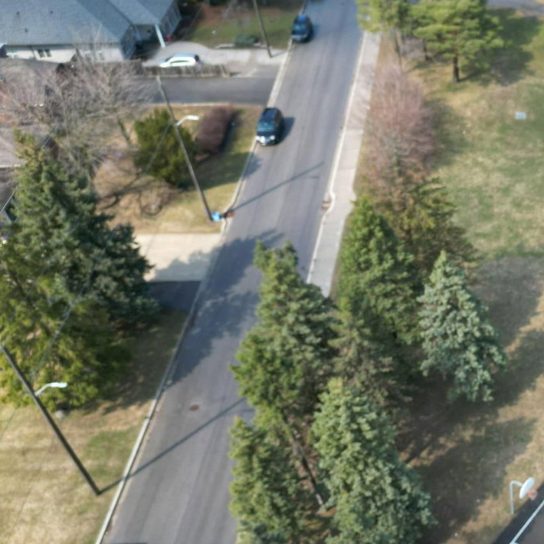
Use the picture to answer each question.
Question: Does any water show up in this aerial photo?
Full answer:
No, the picture contains no water.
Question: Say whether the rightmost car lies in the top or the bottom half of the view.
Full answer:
You can find the rightmost car in the top half.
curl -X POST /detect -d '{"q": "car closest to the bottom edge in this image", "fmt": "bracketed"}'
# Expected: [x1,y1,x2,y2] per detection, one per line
[256,113,286,145]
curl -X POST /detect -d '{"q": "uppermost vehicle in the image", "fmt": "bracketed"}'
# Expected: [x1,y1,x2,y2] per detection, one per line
[290,18,315,42]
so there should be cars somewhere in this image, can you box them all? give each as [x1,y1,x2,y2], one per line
[256,113,286,145]
[158,54,198,72]
[290,18,315,42]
